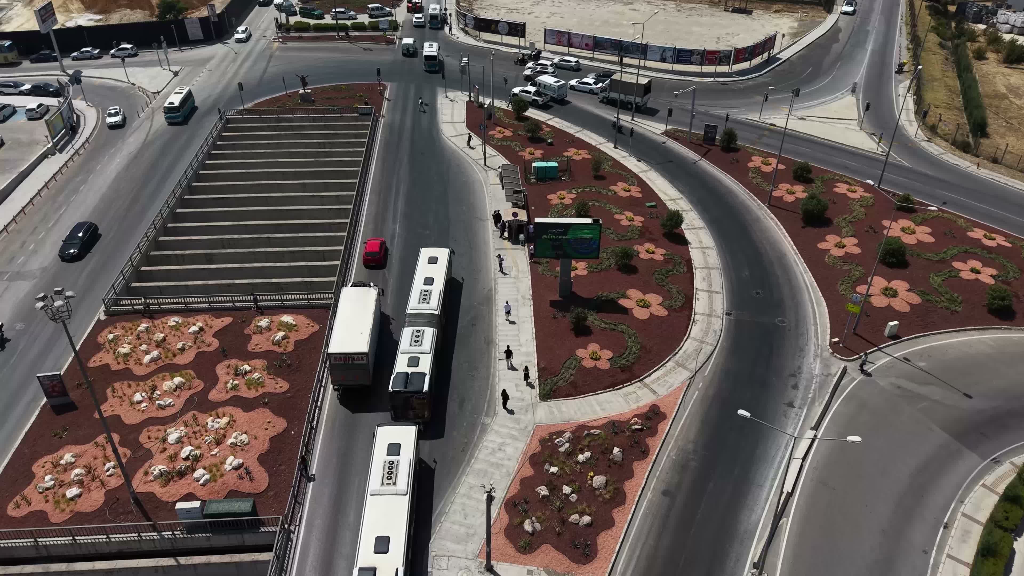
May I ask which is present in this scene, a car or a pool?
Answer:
car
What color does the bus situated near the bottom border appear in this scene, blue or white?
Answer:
white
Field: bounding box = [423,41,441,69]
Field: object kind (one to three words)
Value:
vehicle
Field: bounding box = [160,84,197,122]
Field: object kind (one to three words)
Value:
vehicle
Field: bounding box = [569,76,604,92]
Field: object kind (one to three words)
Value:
car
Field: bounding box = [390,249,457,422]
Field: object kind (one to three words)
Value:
bus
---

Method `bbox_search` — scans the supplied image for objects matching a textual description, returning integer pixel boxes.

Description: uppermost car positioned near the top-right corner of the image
[843,1,856,15]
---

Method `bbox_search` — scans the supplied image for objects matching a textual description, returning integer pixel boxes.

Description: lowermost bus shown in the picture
[352,425,426,576]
